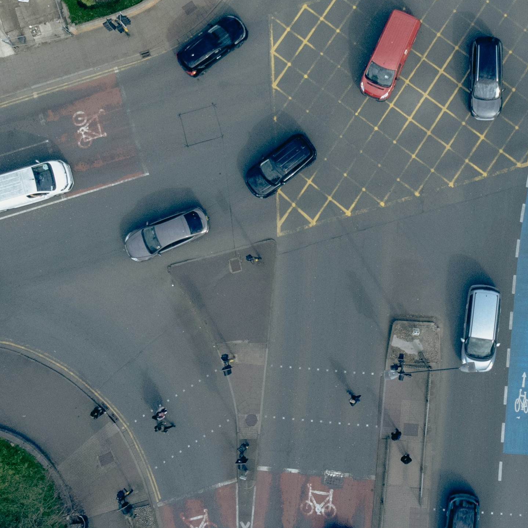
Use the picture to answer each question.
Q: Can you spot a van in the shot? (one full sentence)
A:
Yes, this view includes a van.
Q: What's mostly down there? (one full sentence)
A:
For the most part, this view shows paved ground.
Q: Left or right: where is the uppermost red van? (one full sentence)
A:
It is on the right.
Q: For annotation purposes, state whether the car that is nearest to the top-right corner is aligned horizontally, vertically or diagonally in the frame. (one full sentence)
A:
The car that is nearest to the top-right corner is laid out vertically.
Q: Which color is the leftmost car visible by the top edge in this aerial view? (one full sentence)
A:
From above, the leftmost car visible by the top edge appears black.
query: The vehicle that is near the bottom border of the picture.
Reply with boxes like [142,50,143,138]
[444,487,480,528]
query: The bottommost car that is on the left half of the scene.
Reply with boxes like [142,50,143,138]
[127,209,211,263]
